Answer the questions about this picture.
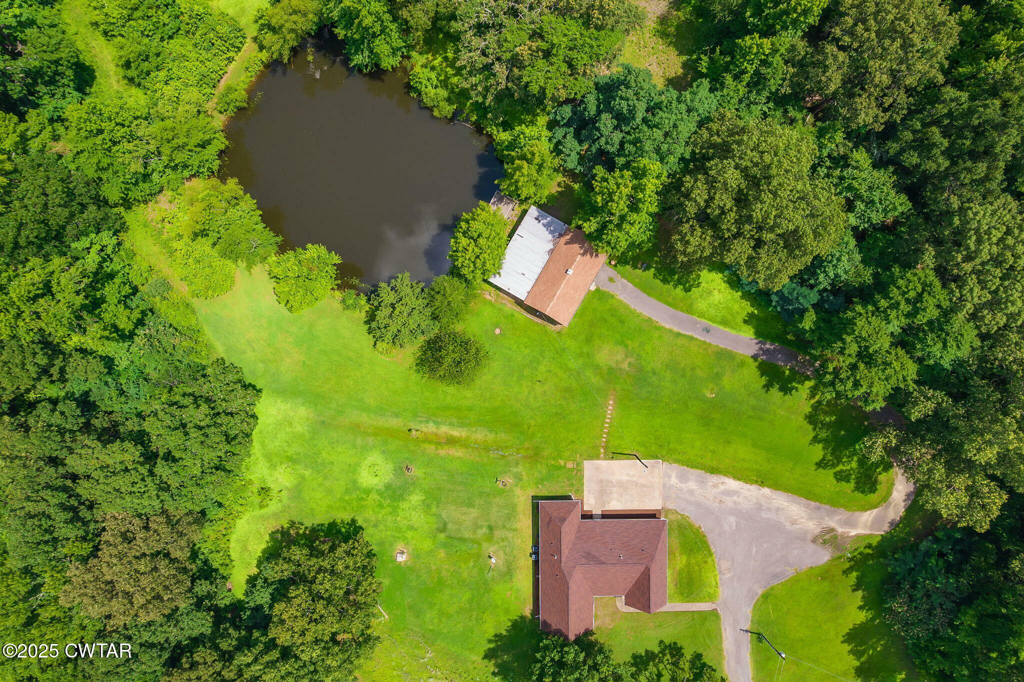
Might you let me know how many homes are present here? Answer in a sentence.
The photo contains 2 homes.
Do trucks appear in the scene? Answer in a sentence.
No, the photo shows no truck.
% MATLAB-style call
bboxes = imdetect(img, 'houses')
[533,489,668,641]
[488,206,611,327]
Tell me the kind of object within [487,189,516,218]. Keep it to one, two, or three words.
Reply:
pier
